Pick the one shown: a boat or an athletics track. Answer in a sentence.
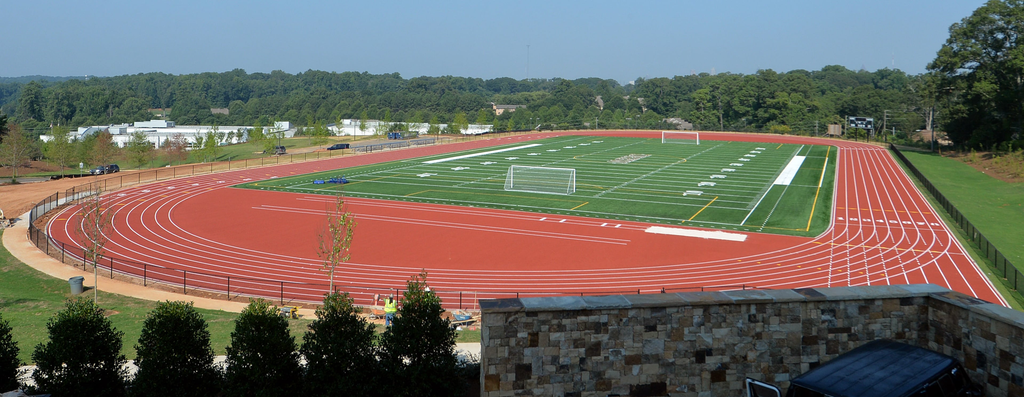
The image shows an athletics track.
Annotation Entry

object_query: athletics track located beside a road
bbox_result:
[45,131,1003,313]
